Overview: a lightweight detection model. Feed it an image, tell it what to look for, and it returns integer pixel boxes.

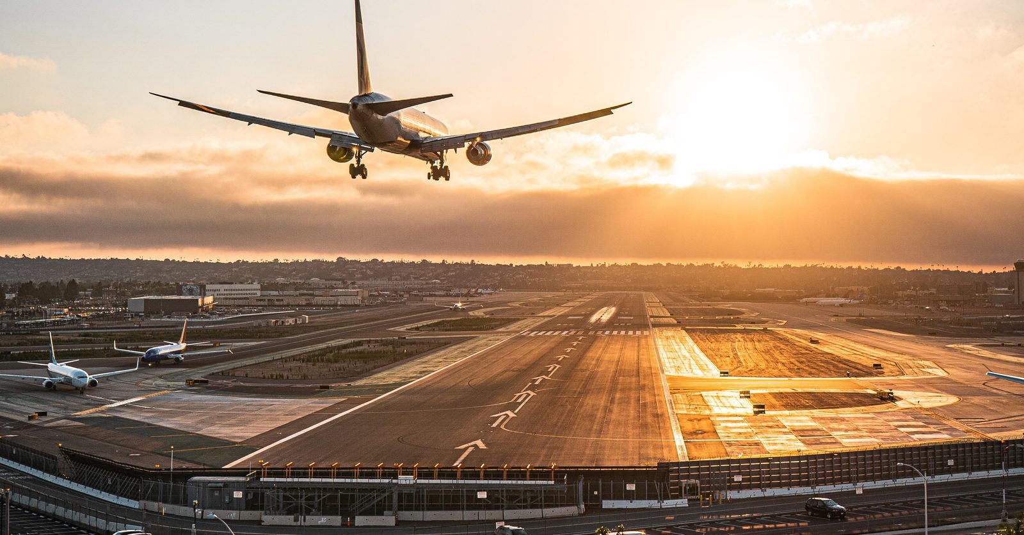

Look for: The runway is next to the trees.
[200,293,705,500]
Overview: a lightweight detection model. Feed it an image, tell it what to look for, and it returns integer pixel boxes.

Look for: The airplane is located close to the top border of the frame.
[150,0,636,181]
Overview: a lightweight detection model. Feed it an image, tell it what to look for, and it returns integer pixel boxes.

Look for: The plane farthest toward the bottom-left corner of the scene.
[0,332,138,392]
